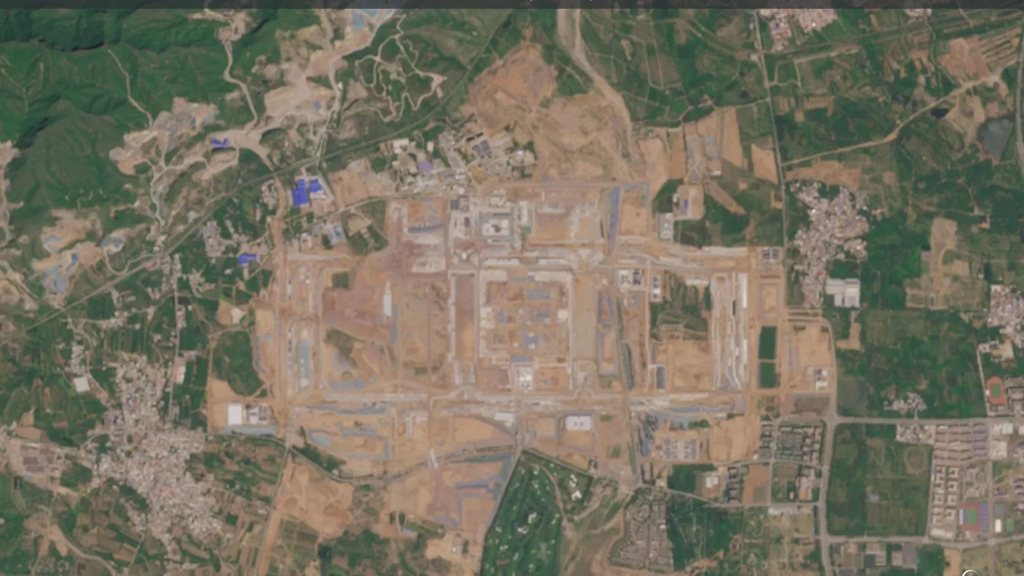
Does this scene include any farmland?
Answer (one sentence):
Yes, some farmland is visible.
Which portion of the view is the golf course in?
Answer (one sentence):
The golf course appears toward the bottom of the photo.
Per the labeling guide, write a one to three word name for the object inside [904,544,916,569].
building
